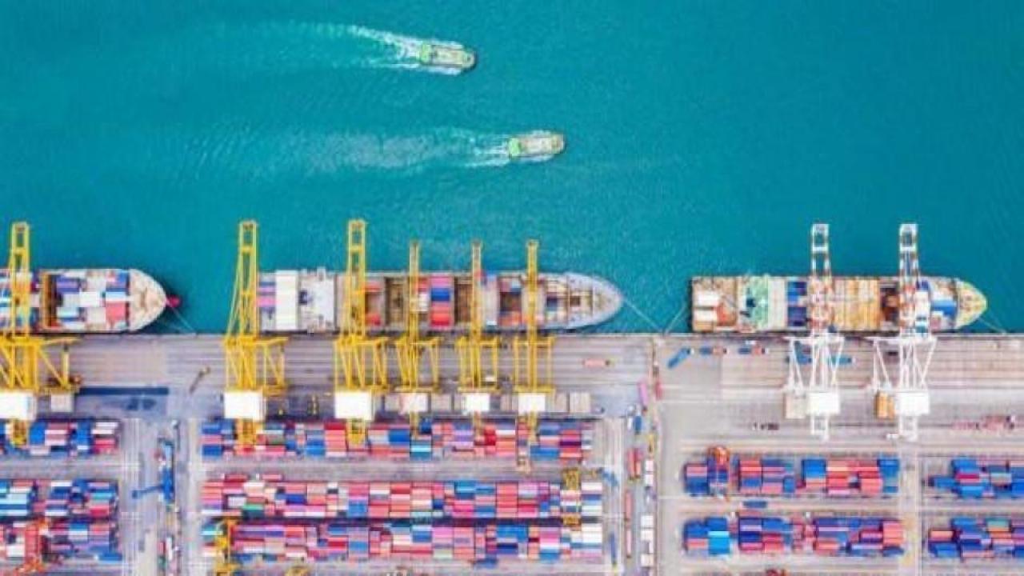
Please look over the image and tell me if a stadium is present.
No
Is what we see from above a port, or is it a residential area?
port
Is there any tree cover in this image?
No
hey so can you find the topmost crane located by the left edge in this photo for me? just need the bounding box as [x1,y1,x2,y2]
[0,221,81,446]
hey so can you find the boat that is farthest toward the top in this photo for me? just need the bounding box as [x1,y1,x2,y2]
[420,42,476,70]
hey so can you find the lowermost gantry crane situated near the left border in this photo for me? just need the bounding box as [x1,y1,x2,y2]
[22,511,60,573]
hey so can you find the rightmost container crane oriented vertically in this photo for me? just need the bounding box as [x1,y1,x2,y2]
[863,223,940,441]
